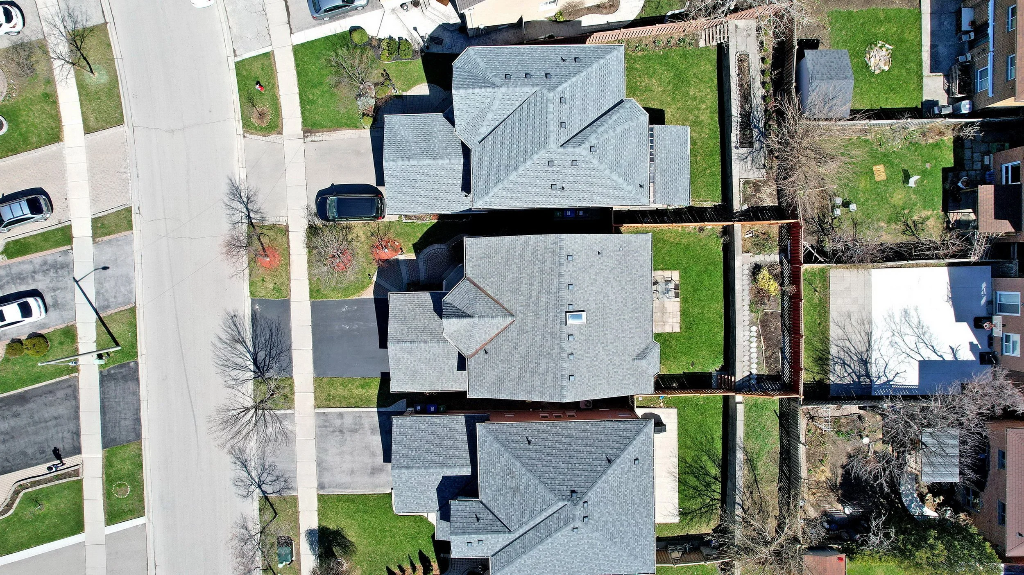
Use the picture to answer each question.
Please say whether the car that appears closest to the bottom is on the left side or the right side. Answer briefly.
left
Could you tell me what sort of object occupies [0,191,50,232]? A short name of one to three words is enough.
car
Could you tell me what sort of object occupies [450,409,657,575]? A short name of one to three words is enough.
house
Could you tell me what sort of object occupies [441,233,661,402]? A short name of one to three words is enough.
house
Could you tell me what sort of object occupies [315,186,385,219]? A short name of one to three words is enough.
car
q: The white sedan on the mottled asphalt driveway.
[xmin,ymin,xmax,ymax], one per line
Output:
[0,292,47,328]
